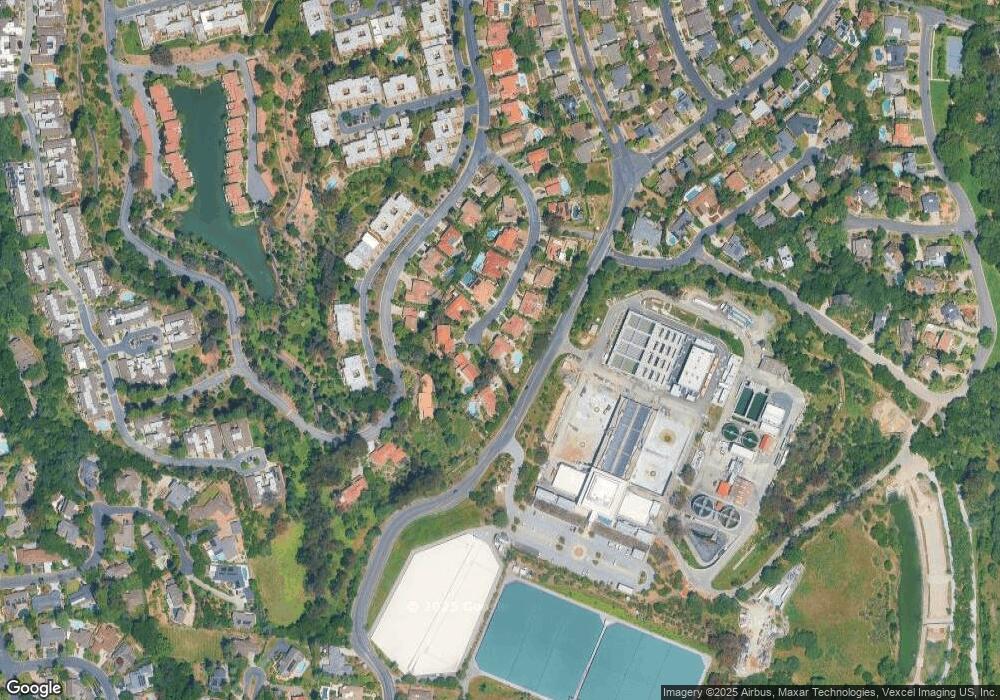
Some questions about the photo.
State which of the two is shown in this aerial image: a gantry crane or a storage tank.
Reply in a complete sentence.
There is a storage tank in the scene.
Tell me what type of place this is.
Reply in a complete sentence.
It's a residential area.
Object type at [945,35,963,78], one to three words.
tennis court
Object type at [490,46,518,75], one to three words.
house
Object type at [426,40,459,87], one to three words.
building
